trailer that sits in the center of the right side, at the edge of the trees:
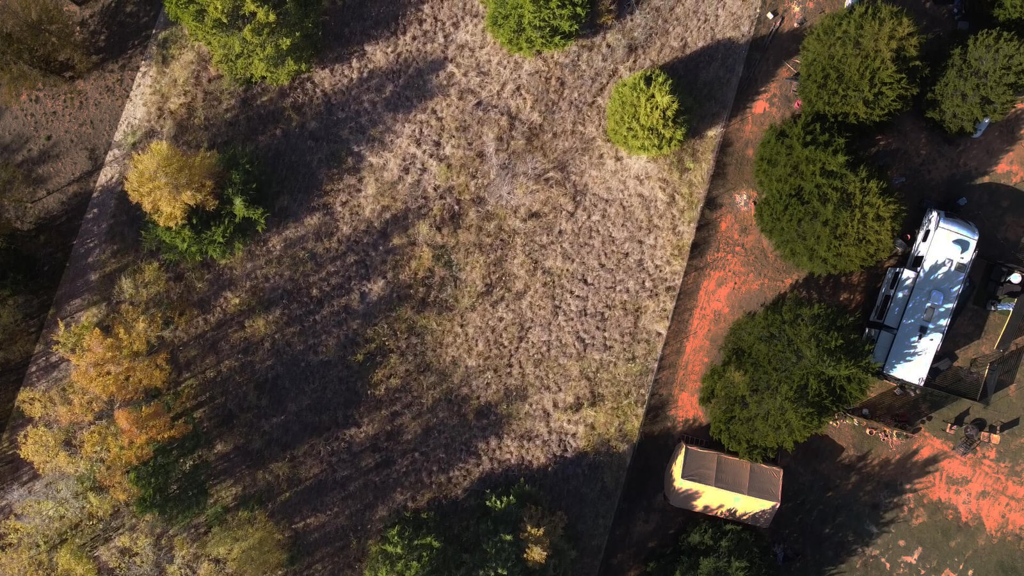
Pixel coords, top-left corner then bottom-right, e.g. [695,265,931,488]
[852,211,976,387]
